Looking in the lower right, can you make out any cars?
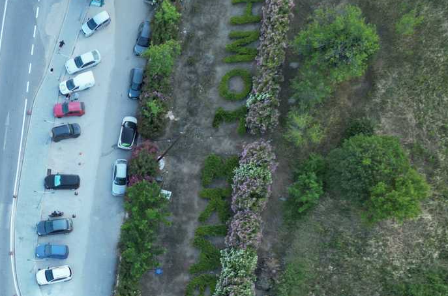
No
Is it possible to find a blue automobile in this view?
Yes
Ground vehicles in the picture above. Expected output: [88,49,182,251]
[119,117,137,151]
[50,122,82,141]
[126,68,143,100]
[53,101,86,118]
[36,243,69,259]
[68,92,81,100]
[44,172,81,190]
[131,21,151,56]
[36,219,73,236]
[64,51,102,75]
[111,160,127,195]
[36,267,73,284]
[59,71,96,96]
[49,211,63,216]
